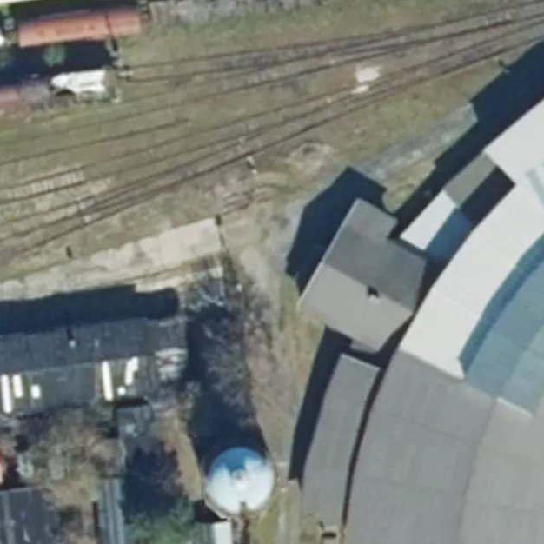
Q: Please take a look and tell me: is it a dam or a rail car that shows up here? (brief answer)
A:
rail car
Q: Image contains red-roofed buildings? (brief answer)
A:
No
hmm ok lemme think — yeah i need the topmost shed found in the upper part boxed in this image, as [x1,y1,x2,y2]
[445,153,510,221]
